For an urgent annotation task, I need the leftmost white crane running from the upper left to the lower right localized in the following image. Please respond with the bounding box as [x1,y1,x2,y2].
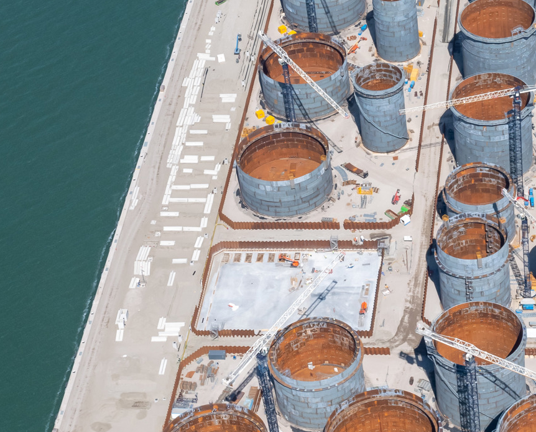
[254,30,348,123]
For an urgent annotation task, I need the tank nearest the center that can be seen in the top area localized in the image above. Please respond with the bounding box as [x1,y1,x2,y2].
[237,122,336,218]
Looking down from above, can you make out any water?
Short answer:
Yes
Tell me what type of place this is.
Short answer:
industrial area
